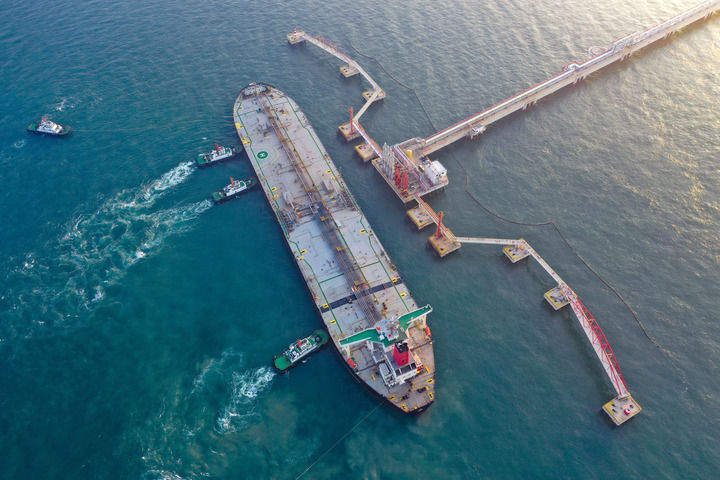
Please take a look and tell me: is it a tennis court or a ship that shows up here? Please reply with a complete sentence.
I can see a ship in this picture.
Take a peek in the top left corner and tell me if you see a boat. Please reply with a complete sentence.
Yes, a boat appears in the top left corner.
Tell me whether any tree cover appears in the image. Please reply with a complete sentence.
No, the scene doesn't show any tree cover.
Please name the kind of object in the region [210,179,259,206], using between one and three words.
boat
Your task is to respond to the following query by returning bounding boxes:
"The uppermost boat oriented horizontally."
[25,114,70,137]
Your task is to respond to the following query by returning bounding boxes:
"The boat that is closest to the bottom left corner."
[271,332,328,373]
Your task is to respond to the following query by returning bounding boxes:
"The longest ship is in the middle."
[233,77,435,419]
